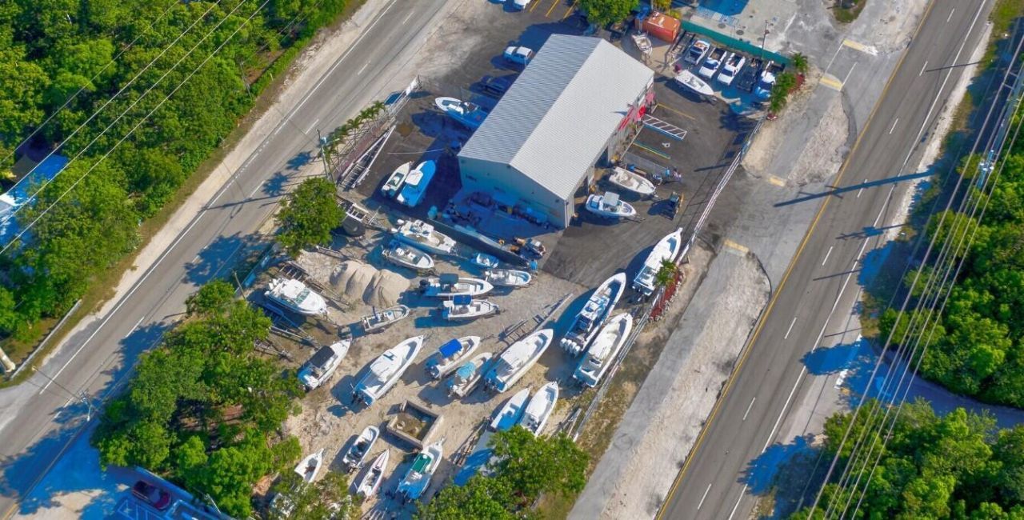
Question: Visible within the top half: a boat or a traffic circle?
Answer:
boat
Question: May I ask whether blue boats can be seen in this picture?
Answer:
Yes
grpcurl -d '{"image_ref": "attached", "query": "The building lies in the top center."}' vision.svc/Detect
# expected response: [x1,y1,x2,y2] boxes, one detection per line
[456,34,658,230]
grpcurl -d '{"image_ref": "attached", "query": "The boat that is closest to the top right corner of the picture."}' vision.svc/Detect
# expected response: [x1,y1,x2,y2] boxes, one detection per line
[672,68,715,96]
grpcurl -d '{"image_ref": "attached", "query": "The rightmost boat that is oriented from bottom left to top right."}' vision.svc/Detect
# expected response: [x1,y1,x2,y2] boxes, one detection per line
[633,230,682,301]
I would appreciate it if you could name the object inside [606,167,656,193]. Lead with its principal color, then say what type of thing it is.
white boat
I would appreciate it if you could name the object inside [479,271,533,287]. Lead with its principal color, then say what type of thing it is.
white boat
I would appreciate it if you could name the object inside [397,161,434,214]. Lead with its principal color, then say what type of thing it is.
blue boat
